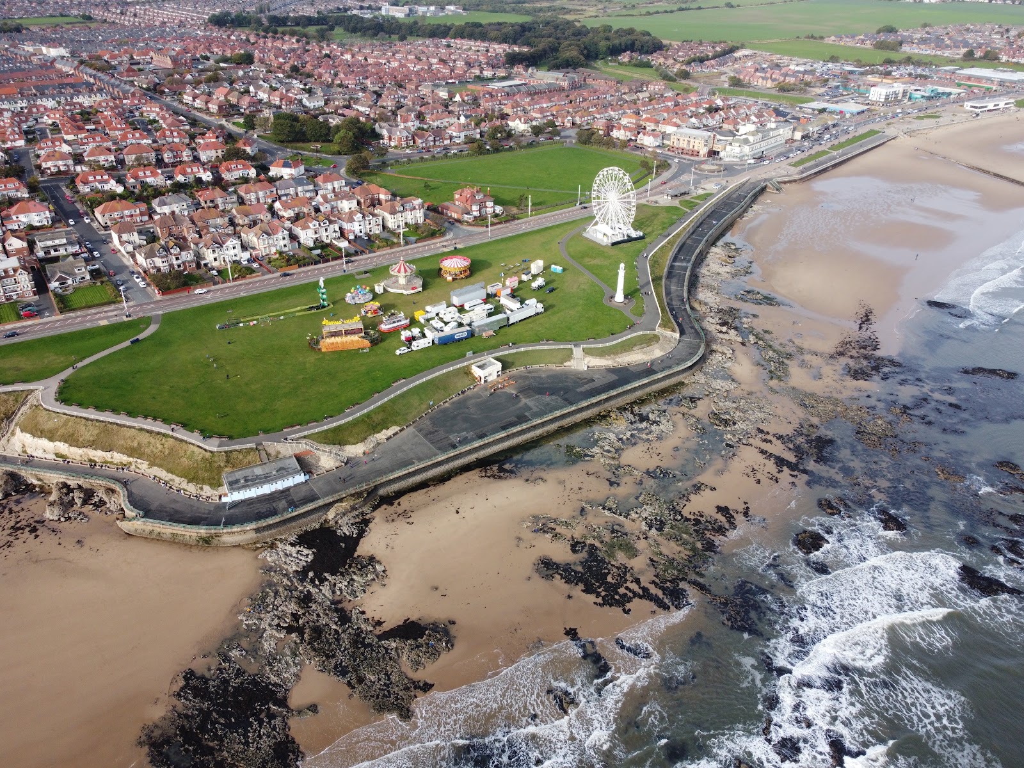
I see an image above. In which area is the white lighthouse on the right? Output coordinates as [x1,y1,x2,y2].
[606,264,633,306]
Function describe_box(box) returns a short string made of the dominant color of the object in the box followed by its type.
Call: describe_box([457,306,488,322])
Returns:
white camper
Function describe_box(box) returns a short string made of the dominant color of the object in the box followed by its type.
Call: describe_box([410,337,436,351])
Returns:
white camper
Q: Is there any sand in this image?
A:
Yes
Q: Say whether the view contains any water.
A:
Yes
